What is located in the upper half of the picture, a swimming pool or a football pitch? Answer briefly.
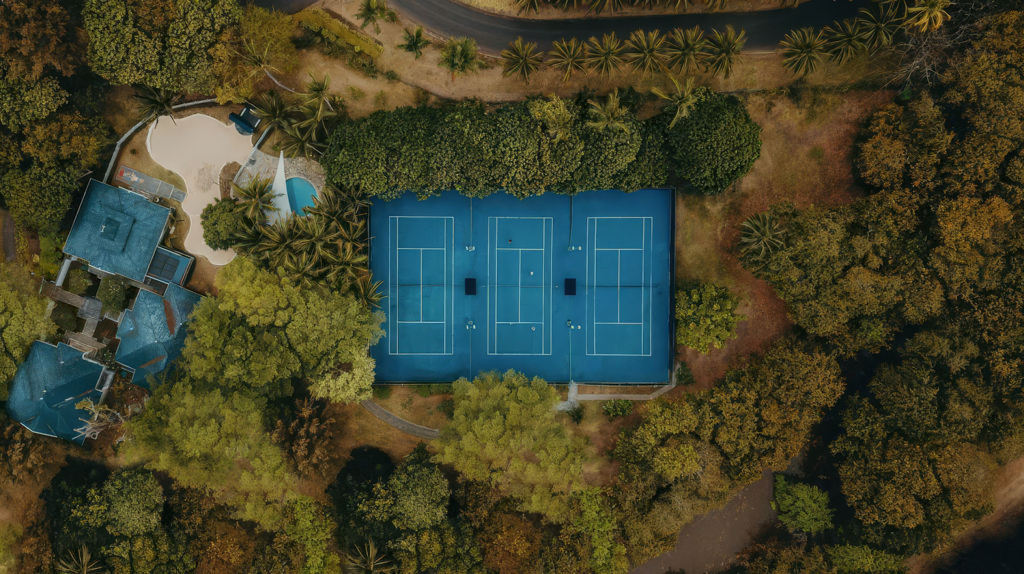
swimming pool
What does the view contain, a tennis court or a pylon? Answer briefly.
tennis court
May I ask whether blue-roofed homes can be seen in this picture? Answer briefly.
Yes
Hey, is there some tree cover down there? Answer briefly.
Yes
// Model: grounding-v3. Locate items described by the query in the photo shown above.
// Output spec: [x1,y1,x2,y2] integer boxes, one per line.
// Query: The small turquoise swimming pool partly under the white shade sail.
[286,175,320,218]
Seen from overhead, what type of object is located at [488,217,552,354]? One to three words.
tennis court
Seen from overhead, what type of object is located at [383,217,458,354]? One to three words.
tennis court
